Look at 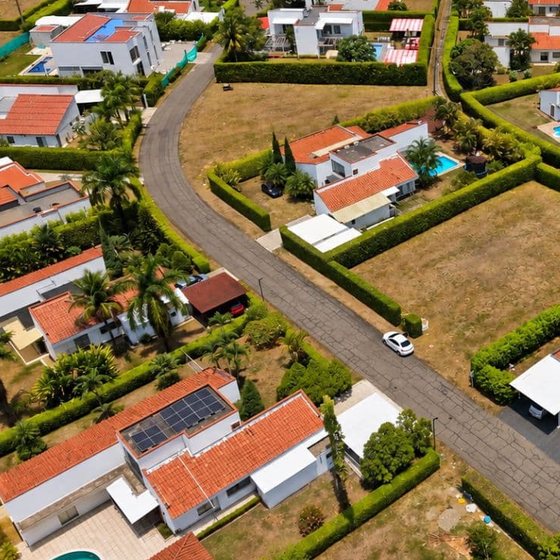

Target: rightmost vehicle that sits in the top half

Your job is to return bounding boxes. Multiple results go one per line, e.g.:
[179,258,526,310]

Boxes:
[260,178,283,199]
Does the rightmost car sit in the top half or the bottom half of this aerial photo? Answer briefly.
bottom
